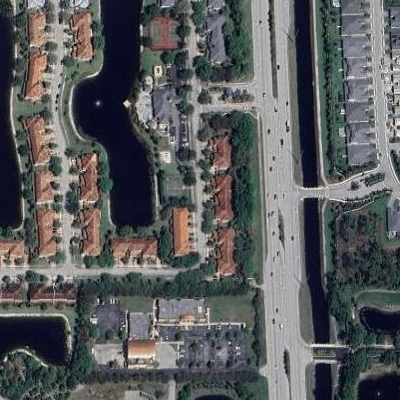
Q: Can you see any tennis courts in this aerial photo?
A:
Yes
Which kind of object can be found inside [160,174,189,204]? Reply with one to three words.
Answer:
tennis court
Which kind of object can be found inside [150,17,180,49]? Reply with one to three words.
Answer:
tennis court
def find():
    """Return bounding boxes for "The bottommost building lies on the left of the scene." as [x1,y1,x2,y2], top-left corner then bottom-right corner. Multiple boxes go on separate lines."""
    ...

[128,340,155,359]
